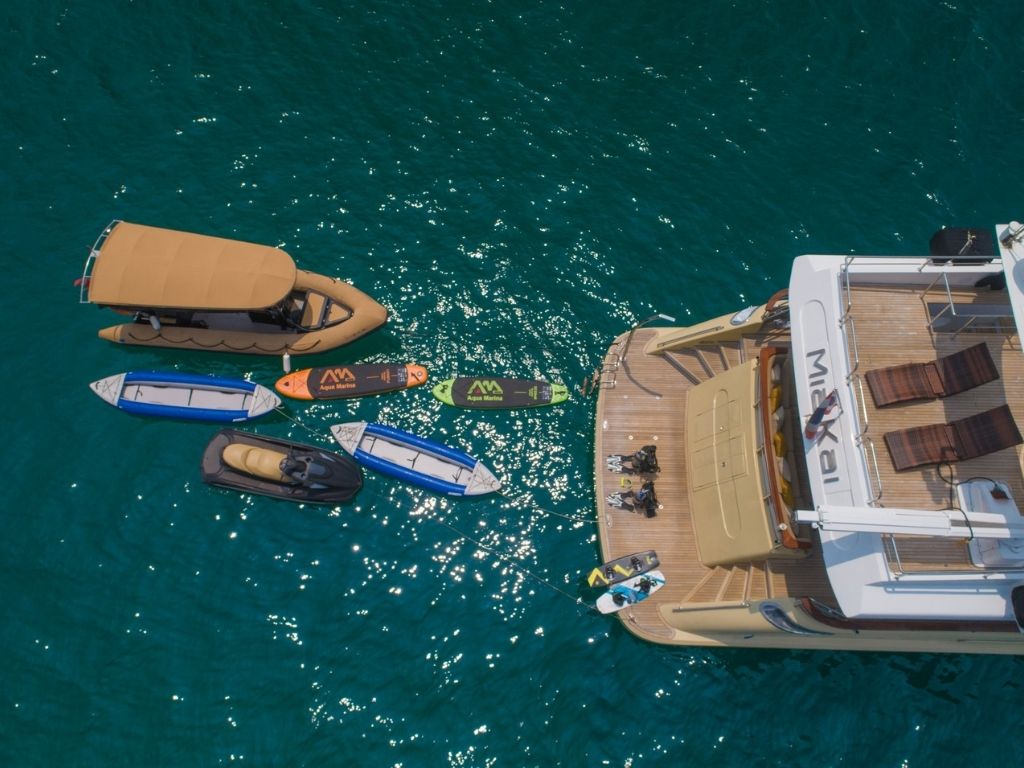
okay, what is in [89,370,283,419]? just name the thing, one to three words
boat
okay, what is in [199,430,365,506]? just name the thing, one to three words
boat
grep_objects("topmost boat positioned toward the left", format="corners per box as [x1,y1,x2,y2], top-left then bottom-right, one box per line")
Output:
[74,222,388,354]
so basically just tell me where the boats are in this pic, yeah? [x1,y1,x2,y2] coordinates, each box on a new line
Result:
[89,370,283,419]
[74,222,388,354]
[581,222,1024,656]
[199,430,365,506]
[331,420,500,492]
